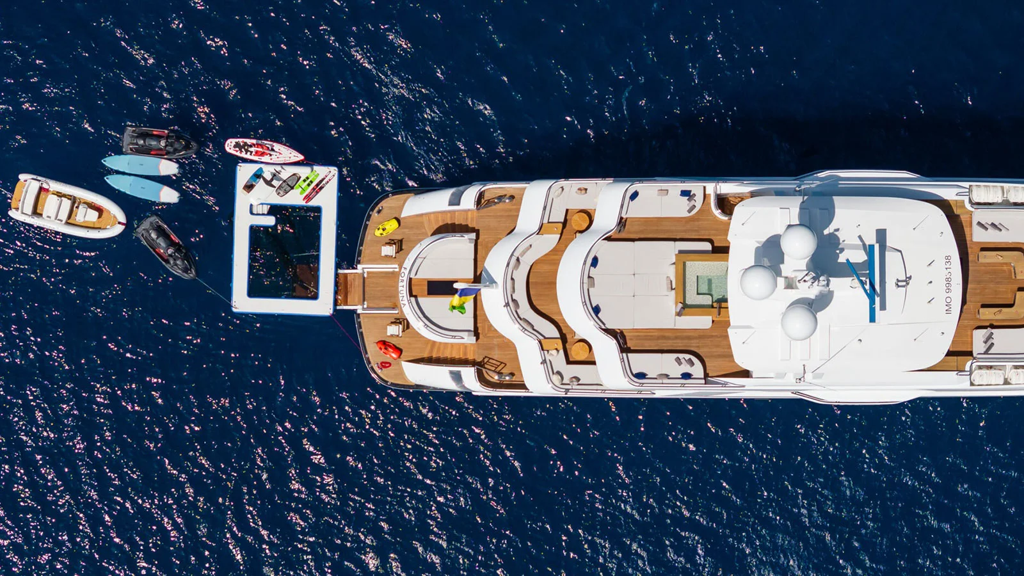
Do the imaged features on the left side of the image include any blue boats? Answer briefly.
No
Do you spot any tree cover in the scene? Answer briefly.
No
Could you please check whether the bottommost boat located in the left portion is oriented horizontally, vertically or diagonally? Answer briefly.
diagonally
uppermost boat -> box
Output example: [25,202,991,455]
[121,127,198,158]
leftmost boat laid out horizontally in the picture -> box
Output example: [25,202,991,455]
[6,171,125,238]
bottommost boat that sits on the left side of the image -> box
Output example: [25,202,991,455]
[136,215,197,280]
